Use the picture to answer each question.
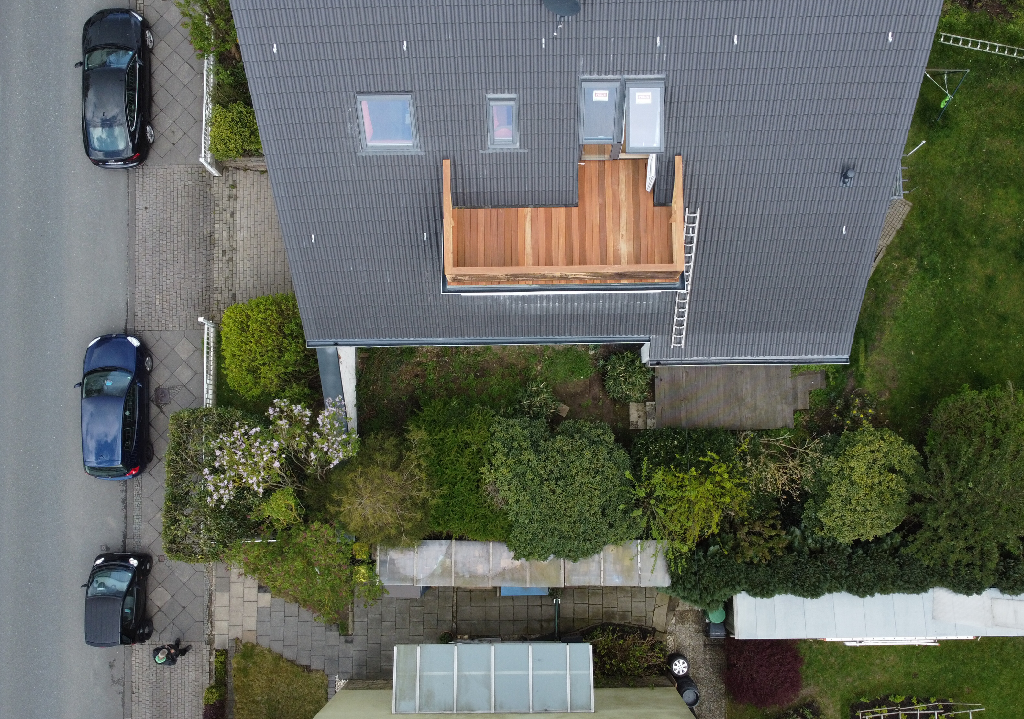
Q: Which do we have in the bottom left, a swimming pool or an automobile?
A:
automobile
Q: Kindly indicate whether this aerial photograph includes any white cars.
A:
No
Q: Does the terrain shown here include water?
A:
No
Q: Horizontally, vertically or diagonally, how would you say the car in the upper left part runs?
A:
vertically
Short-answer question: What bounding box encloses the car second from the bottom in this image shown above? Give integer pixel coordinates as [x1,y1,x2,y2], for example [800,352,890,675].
[73,332,155,480]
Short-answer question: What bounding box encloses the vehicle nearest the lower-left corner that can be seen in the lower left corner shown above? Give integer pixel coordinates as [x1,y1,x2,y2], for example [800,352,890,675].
[77,553,153,650]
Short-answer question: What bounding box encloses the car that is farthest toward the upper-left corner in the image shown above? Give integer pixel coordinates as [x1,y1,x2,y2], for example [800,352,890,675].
[72,8,156,173]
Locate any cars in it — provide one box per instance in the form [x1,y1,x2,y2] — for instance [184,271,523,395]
[77,553,153,650]
[72,8,156,173]
[73,332,155,480]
